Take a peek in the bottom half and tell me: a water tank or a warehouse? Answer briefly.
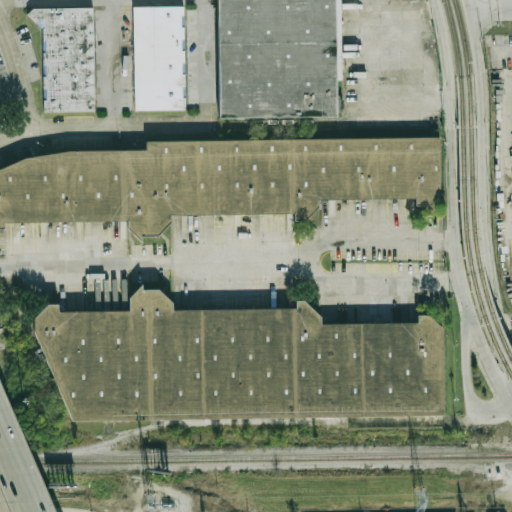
warehouse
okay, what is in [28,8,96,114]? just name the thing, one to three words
building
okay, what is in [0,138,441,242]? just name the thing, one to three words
building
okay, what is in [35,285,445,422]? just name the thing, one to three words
warehouse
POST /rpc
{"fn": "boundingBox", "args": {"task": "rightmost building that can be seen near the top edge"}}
[220,0,343,120]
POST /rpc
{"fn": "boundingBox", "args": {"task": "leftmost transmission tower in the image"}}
[413,486,428,508]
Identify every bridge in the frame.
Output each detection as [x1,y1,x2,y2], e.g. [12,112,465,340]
[0,382,58,512]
